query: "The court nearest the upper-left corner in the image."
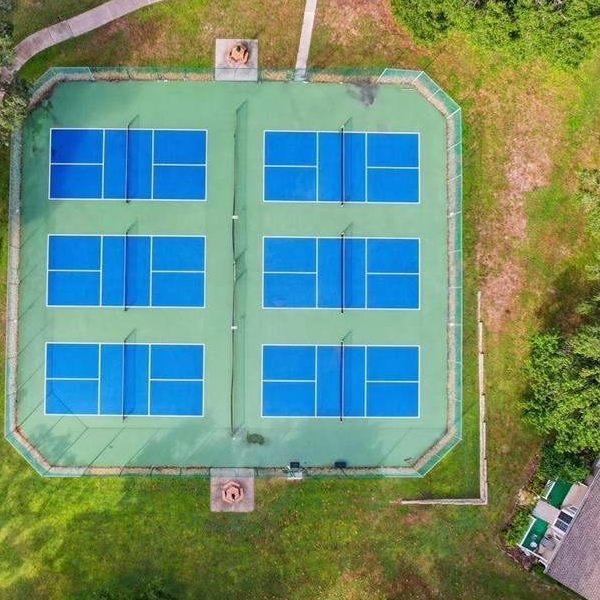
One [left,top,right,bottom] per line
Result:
[49,121,207,206]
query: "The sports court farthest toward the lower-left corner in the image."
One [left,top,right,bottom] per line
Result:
[46,338,204,423]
